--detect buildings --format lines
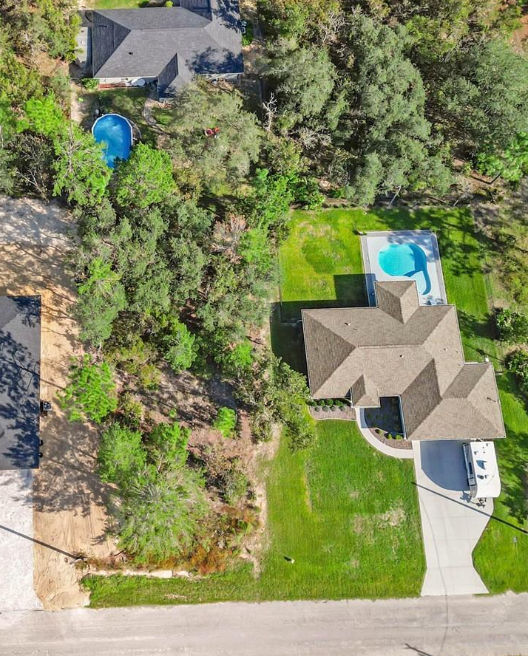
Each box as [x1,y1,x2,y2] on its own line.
[91,0,244,104]
[0,296,40,469]
[302,281,501,440]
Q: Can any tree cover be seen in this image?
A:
Yes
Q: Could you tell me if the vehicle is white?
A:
Yes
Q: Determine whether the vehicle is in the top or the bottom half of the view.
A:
bottom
